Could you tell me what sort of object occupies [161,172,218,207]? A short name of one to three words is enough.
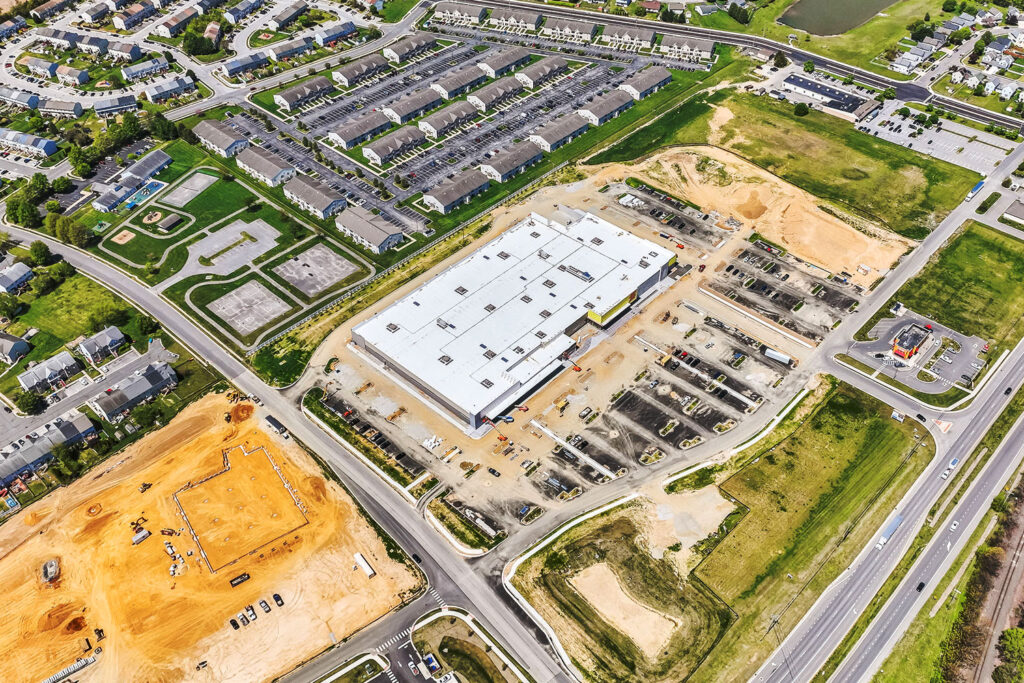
sports court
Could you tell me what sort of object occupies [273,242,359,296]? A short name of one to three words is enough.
sports court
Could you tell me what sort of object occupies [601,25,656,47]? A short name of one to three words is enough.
building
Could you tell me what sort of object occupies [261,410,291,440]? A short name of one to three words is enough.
truck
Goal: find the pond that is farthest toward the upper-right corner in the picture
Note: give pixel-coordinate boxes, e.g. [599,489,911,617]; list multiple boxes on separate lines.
[780,0,897,33]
